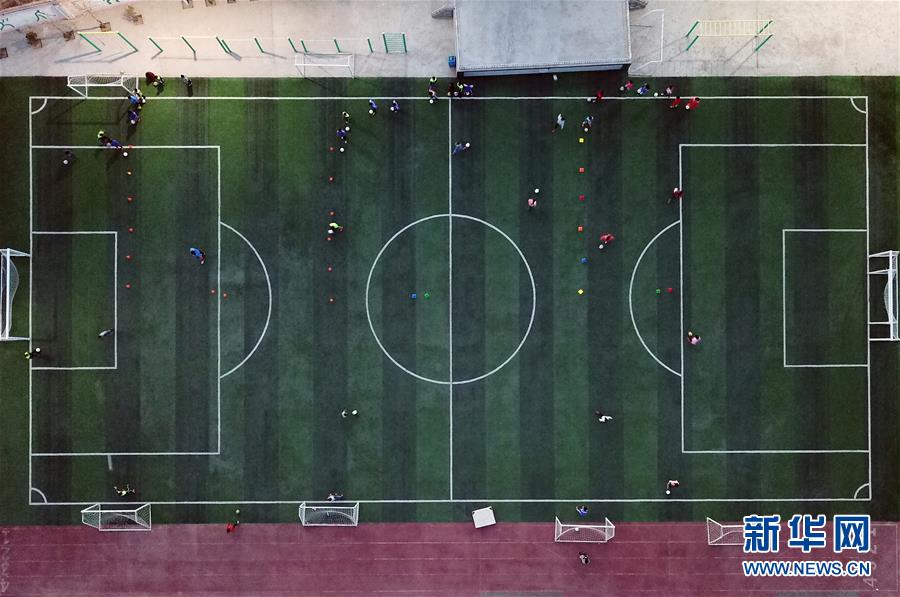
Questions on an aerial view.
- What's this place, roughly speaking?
sports ground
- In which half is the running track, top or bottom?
bottom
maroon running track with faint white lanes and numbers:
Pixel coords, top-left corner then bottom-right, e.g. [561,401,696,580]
[0,522,900,597]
